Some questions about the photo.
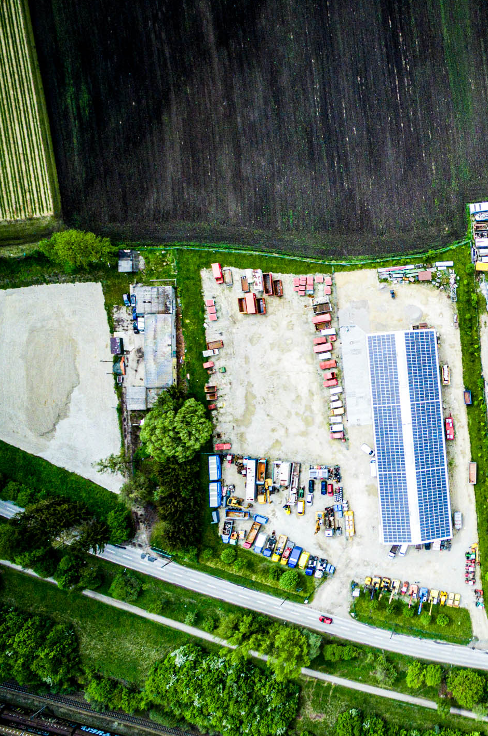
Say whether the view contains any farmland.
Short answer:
Yes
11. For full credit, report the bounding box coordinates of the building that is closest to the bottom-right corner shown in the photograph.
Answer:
[365,327,454,547]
